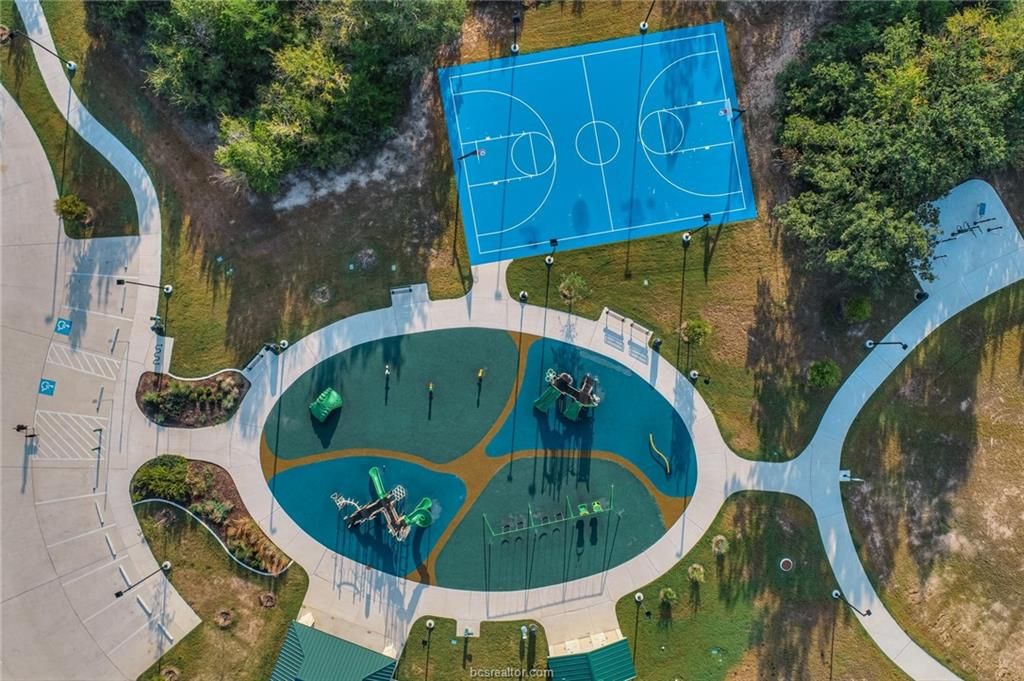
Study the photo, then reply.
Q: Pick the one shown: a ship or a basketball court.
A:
basketball court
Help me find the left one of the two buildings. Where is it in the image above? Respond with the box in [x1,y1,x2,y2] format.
[269,612,397,681]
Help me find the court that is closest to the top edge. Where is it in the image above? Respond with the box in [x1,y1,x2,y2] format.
[439,22,756,263]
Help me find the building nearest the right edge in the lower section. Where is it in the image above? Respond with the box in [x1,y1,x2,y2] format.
[546,628,635,681]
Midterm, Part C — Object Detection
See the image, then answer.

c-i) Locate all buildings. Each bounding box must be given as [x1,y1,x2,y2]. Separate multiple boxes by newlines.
[546,628,635,681]
[269,612,397,681]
